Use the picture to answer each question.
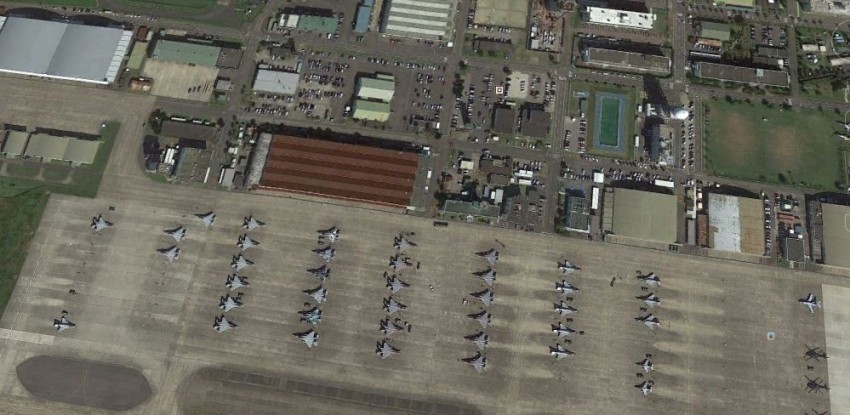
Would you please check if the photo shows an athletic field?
Yes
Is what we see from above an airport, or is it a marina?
airport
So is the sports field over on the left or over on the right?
right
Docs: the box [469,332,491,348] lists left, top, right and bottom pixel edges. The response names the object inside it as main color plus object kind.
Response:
gray airplane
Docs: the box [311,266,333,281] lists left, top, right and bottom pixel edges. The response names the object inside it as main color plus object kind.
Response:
gray airplane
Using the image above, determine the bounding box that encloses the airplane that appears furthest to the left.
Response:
[55,318,73,331]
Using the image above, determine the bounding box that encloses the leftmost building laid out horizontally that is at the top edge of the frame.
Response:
[0,16,134,85]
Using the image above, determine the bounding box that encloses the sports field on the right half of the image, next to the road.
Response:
[705,100,846,197]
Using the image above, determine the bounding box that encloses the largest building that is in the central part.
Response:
[256,135,420,209]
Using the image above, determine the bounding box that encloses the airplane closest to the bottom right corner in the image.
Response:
[801,293,822,312]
